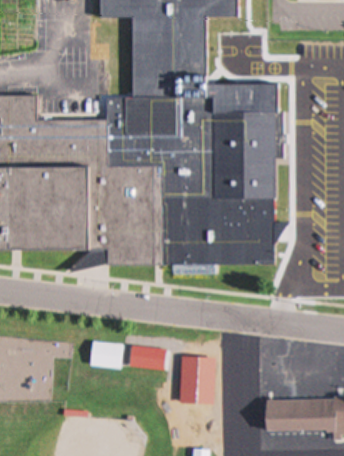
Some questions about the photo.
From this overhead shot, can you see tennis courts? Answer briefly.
No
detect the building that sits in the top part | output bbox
[0,0,288,276]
